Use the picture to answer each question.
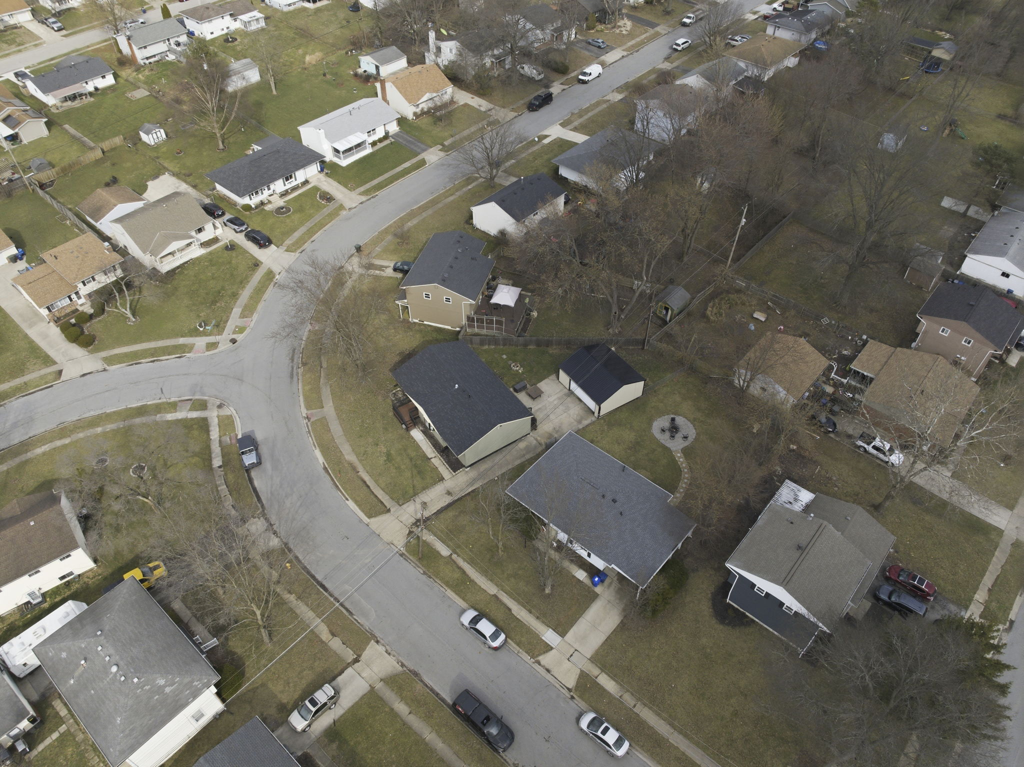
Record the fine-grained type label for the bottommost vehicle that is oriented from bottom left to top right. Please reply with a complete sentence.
Specifically, the bottommost vehicle that is oriented from bottom left to top right is an automobile.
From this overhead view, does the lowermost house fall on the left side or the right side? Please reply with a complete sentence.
You can find the lowermost house on the left side of the picture.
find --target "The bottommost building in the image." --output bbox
[193,716,300,767]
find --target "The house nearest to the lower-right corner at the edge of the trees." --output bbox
[720,493,896,654]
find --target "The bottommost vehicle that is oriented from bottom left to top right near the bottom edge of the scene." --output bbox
[284,682,343,735]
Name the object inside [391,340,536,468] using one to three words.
house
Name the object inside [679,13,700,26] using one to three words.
vehicle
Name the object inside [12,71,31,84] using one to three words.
vehicle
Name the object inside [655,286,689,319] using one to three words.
shed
